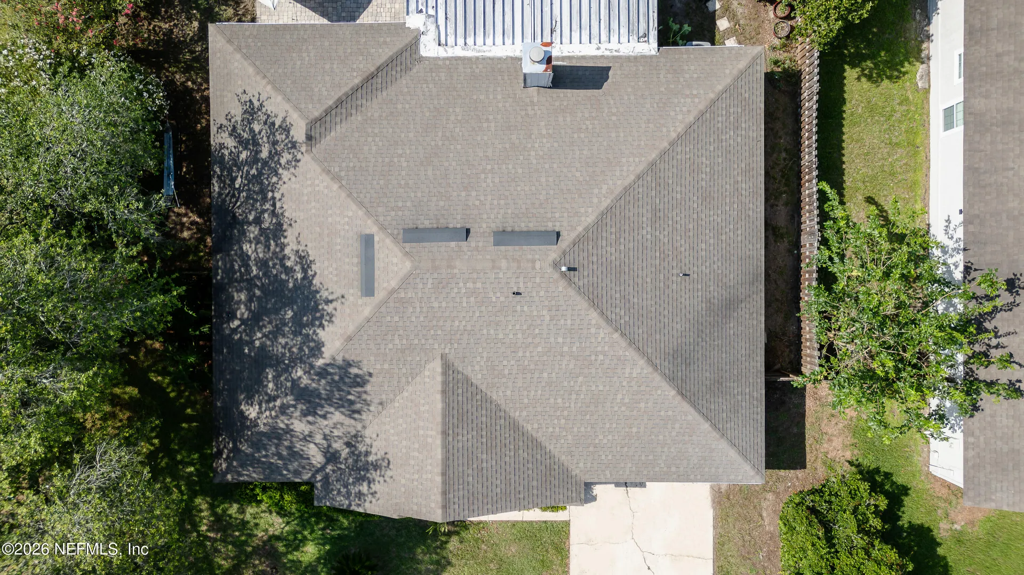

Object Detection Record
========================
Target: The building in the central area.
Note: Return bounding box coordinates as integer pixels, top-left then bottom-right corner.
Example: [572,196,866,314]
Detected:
[208,20,765,521]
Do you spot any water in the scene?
No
